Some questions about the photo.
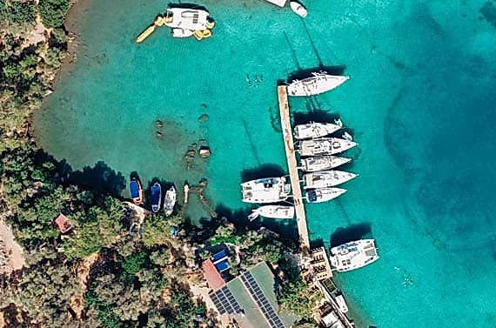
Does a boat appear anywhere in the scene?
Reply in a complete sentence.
Yes, this view includes a boat.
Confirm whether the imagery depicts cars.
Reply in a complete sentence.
No, the scene contains no car.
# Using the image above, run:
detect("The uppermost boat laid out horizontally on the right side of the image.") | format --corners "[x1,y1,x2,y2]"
[286,73,349,98]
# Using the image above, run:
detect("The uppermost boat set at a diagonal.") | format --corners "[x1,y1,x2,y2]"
[290,2,308,19]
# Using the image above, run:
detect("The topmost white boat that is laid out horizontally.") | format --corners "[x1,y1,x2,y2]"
[164,8,210,29]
